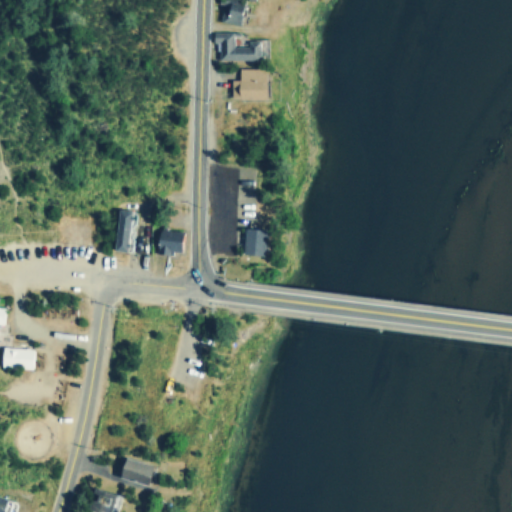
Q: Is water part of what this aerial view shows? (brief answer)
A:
Yes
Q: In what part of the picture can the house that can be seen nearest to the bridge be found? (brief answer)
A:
center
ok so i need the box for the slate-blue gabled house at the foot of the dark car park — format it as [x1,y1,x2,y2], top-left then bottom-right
[246,229,268,257]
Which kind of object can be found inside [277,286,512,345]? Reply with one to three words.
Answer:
bridge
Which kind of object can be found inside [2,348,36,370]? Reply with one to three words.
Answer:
building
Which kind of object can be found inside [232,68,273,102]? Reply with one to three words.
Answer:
house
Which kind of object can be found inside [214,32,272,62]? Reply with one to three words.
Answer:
house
